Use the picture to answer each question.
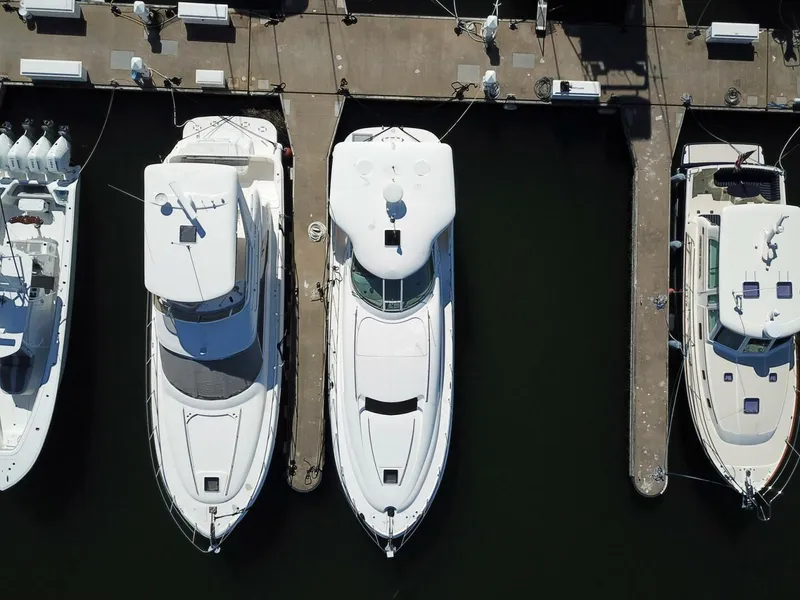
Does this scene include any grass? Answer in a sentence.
No, grass can't be seen anywhere here.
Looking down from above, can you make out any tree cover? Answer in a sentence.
No, there's no tree cover in this view.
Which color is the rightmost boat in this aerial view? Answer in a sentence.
The rightmost boat looks white in the image.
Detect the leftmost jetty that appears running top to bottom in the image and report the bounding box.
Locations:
[279,91,348,492]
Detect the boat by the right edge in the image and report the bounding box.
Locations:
[676,143,800,530]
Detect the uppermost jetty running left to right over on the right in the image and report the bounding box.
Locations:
[617,0,690,27]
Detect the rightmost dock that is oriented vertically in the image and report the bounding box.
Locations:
[616,102,688,495]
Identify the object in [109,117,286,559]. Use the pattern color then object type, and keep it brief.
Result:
white boat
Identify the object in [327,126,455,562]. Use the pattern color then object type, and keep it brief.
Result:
white boat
